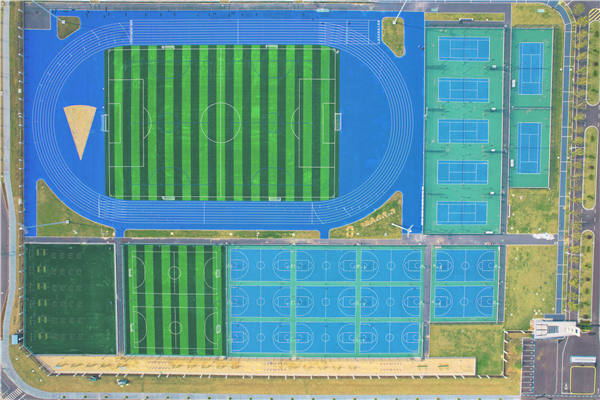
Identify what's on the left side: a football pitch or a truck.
football pitch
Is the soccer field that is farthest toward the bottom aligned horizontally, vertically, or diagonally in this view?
horizontally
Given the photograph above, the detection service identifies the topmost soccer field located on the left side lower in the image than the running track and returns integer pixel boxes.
[130,249,220,297]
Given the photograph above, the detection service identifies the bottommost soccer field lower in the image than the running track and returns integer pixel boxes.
[131,303,220,351]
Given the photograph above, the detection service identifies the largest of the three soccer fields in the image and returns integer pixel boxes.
[104,45,340,200]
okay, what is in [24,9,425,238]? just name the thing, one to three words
running track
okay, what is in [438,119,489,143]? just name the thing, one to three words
tennis court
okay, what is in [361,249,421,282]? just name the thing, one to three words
basketball court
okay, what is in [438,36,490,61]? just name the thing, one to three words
tennis court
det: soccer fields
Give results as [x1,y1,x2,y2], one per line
[104,45,340,200]
[131,303,220,351]
[130,249,220,297]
